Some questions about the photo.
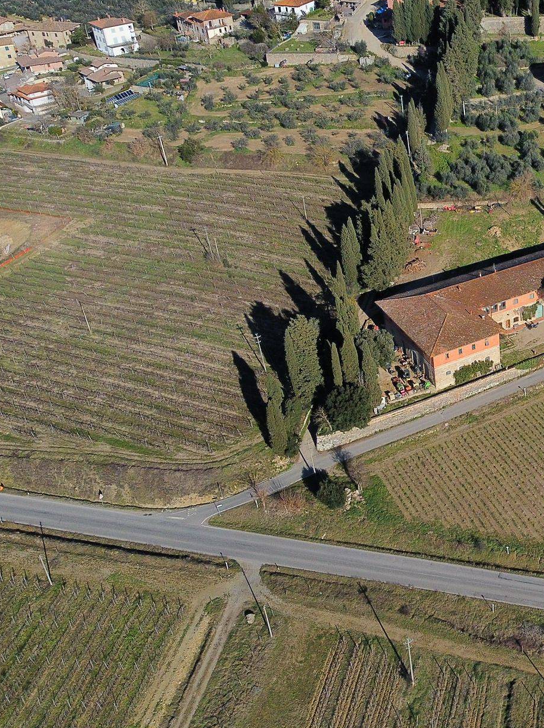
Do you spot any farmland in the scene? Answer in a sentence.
Yes, there's farmland in this view.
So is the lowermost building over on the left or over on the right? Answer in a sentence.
The lowermost building is on the right side of the image.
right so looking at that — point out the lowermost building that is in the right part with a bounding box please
[365,239,544,391]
